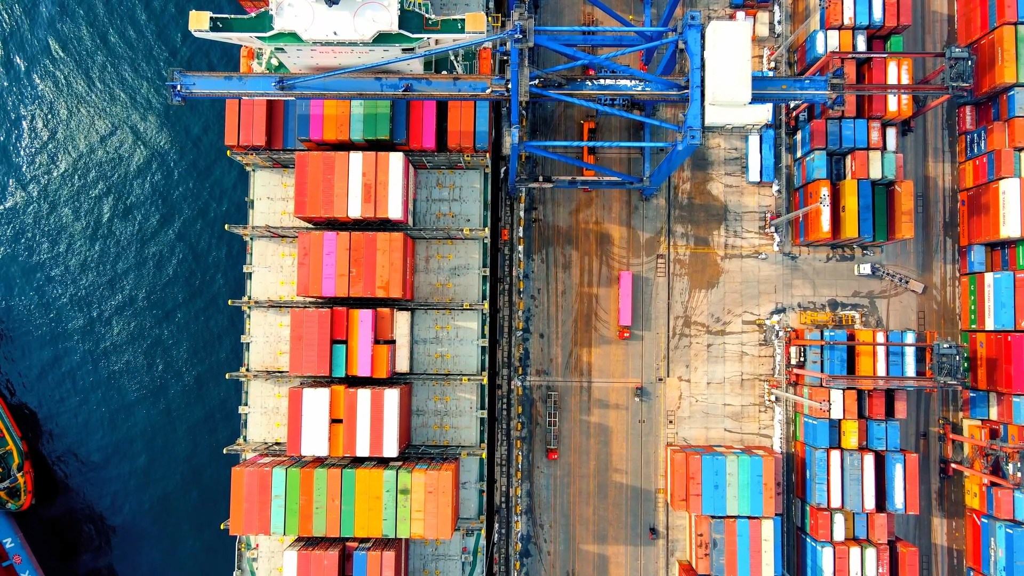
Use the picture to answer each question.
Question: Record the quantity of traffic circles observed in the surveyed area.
none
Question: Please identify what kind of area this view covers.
port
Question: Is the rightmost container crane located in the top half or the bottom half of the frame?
bottom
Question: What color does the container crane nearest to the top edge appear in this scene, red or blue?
blue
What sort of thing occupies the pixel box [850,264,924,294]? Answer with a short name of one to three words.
truck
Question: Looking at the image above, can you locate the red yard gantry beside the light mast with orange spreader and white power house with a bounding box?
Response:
[791,328,970,395]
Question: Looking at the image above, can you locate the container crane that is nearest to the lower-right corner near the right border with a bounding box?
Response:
[948,424,1024,501]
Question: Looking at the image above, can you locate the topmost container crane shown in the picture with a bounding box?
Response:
[531,0,679,60]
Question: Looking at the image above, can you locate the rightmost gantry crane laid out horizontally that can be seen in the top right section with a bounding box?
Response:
[789,46,978,128]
